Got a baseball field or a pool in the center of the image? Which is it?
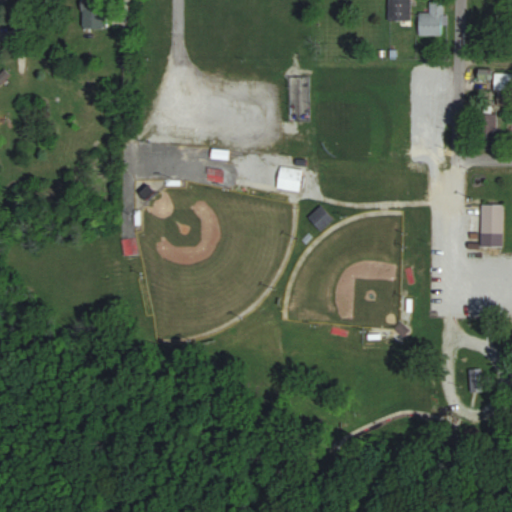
baseball field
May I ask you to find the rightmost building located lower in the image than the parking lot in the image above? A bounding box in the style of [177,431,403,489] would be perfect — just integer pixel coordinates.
[468,369,483,395]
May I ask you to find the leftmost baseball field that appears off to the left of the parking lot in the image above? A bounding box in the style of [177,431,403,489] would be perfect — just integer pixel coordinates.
[140,182,298,344]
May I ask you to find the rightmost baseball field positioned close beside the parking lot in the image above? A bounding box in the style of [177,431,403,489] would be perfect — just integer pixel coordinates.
[284,210,402,330]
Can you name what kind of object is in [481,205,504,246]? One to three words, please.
building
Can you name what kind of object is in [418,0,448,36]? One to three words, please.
house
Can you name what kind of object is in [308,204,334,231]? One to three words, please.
building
